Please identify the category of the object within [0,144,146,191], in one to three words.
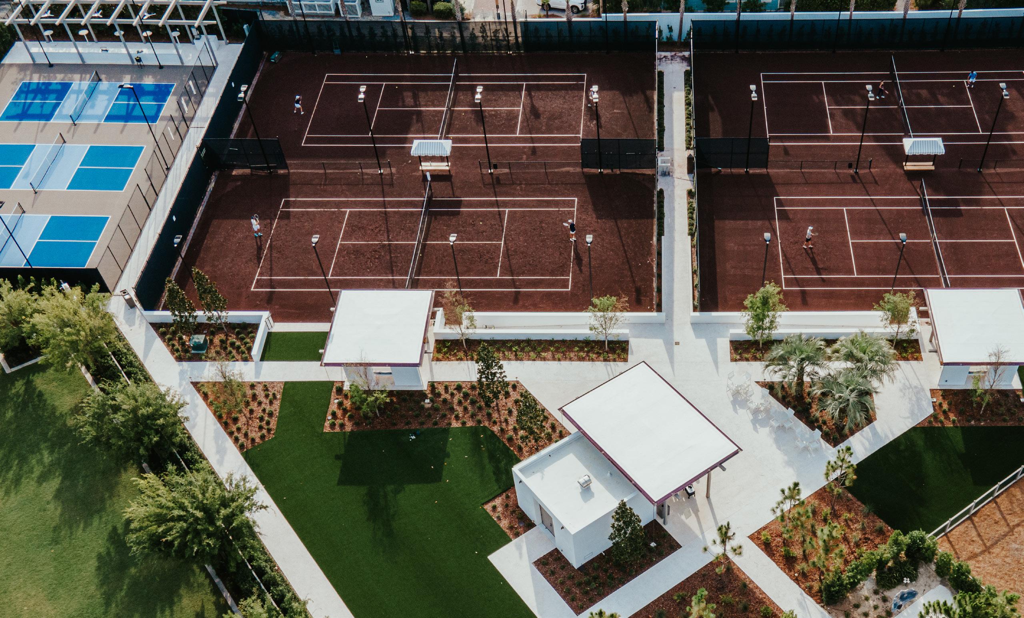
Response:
sports court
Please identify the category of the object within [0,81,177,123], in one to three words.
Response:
sports court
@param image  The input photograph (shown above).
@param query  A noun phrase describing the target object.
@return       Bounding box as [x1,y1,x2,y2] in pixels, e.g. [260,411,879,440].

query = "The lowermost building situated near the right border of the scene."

[920,287,1024,389]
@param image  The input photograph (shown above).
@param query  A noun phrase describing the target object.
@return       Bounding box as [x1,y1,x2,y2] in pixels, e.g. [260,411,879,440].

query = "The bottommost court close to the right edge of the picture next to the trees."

[696,169,1024,322]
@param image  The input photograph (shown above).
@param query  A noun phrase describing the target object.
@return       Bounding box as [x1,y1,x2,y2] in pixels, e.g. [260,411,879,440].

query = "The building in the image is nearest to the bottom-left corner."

[320,288,440,390]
